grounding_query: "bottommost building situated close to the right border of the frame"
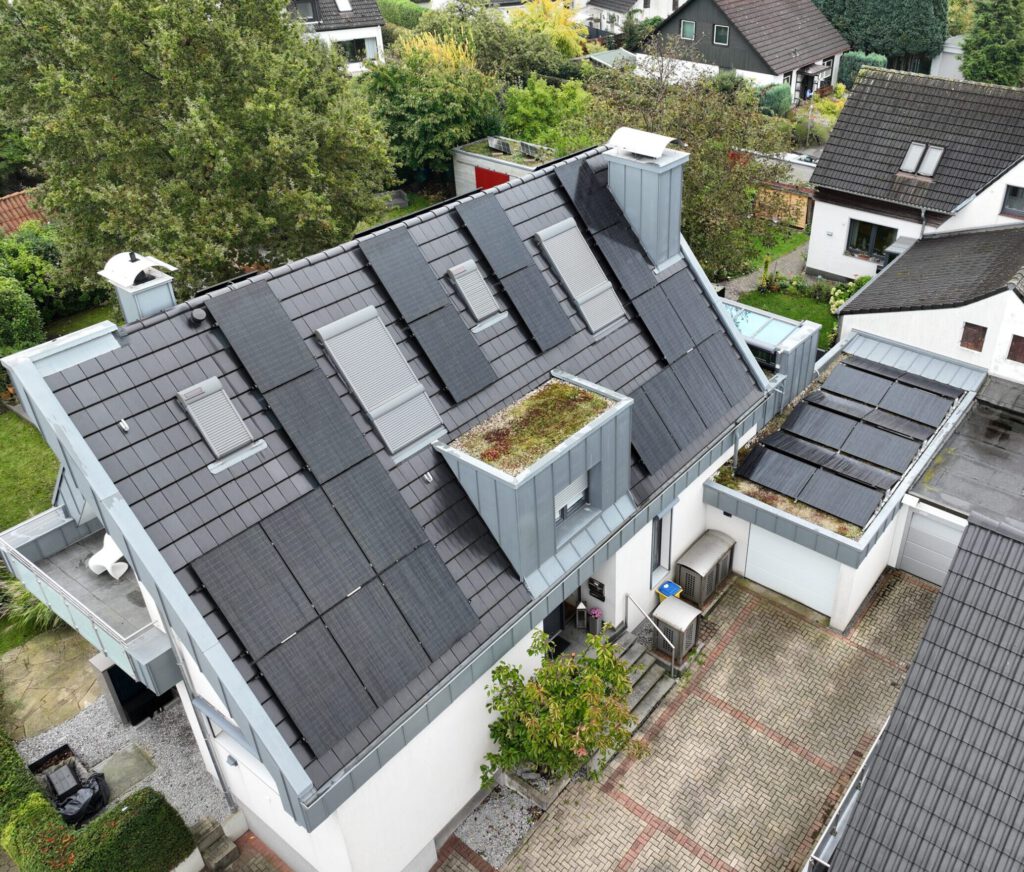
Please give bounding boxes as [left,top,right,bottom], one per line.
[802,512,1024,872]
